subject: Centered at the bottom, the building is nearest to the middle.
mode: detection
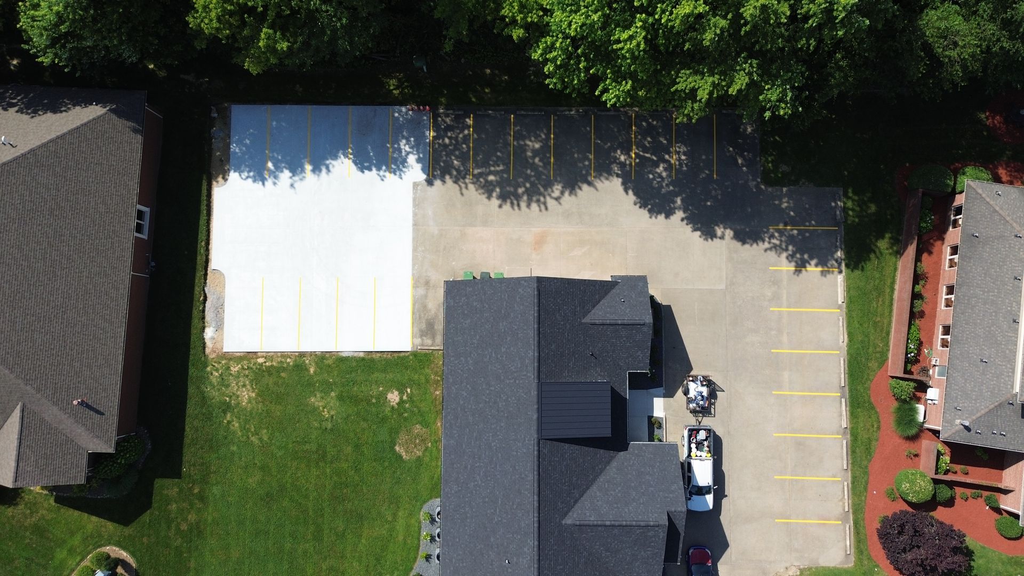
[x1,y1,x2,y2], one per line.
[439,274,686,576]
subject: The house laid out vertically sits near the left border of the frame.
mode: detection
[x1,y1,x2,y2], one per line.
[0,83,162,487]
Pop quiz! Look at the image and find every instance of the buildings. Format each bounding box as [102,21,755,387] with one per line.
[439,274,686,576]
[0,83,162,487]
[924,179,1024,526]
